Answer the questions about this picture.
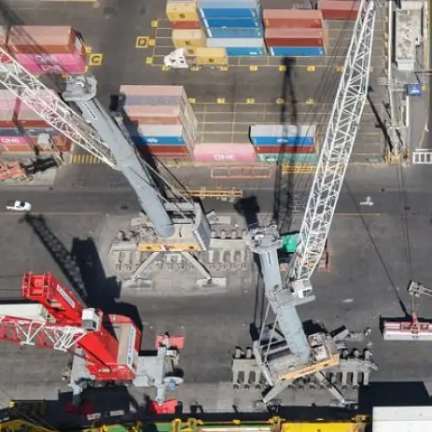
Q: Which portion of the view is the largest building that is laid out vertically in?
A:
top right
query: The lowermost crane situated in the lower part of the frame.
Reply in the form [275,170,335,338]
[0,272,188,432]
